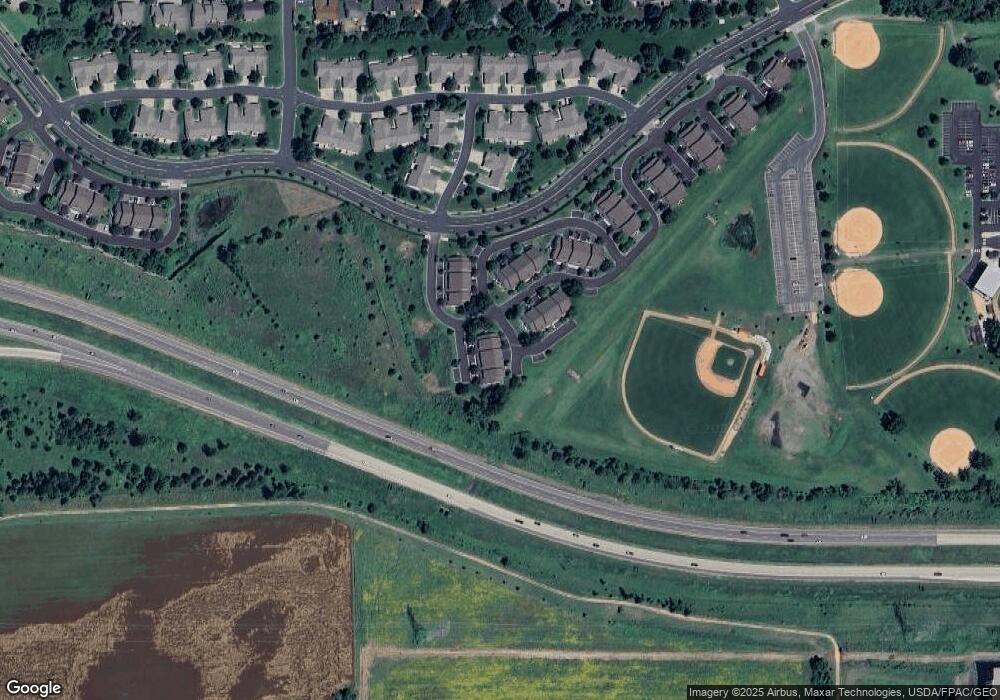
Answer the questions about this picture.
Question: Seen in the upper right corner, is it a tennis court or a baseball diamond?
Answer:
baseball diamond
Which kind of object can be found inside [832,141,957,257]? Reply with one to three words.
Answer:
baseball field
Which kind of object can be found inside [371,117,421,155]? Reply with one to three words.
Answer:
house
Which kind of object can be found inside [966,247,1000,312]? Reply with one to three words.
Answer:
building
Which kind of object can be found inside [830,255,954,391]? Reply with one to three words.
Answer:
baseball field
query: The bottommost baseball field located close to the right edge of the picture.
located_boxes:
[874,364,1000,475]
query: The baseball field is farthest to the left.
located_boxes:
[622,310,771,461]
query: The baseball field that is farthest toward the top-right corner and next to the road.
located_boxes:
[832,18,944,134]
